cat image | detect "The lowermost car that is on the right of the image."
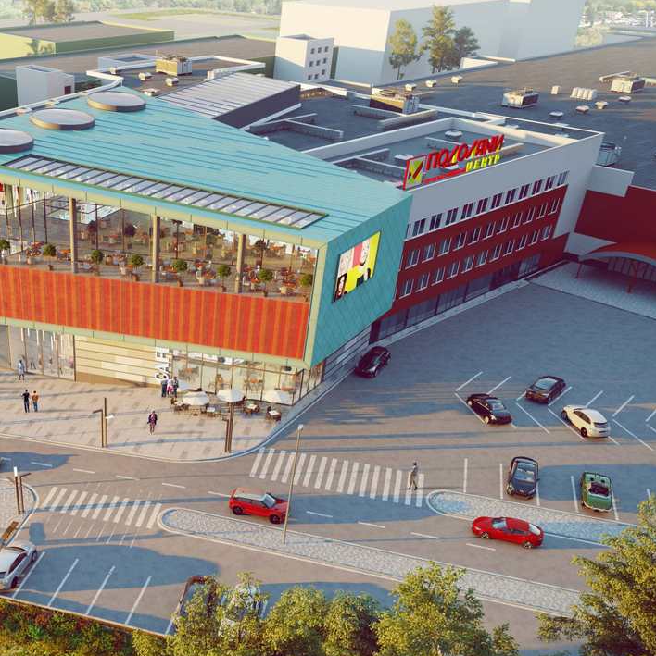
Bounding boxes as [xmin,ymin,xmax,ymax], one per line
[474,512,546,545]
